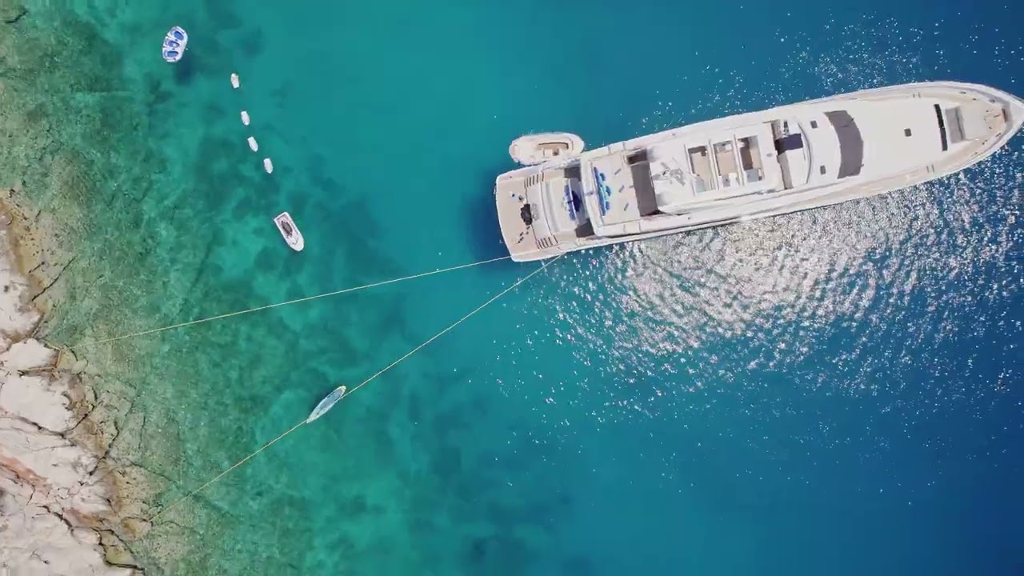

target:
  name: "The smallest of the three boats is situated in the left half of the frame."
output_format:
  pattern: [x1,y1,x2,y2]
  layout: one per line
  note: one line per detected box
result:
[272,212,303,249]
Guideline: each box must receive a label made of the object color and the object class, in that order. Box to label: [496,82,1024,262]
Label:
white boat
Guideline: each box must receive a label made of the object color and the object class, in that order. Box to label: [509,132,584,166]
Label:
white boat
